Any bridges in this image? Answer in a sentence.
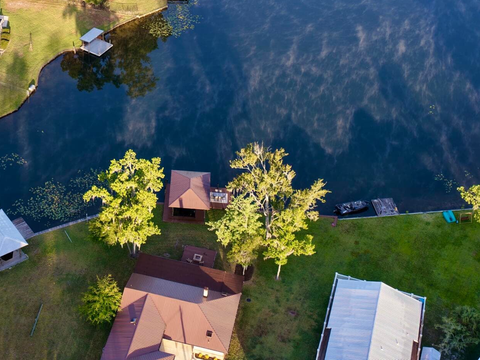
No, this view has no bridge in it.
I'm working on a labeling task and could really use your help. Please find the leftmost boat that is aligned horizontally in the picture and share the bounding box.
[335,200,367,213]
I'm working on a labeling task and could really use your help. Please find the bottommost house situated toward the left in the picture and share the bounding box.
[101,253,245,360]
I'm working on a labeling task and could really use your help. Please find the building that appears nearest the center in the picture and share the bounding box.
[163,170,231,227]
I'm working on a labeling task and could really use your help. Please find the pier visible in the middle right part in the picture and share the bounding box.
[371,199,400,216]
